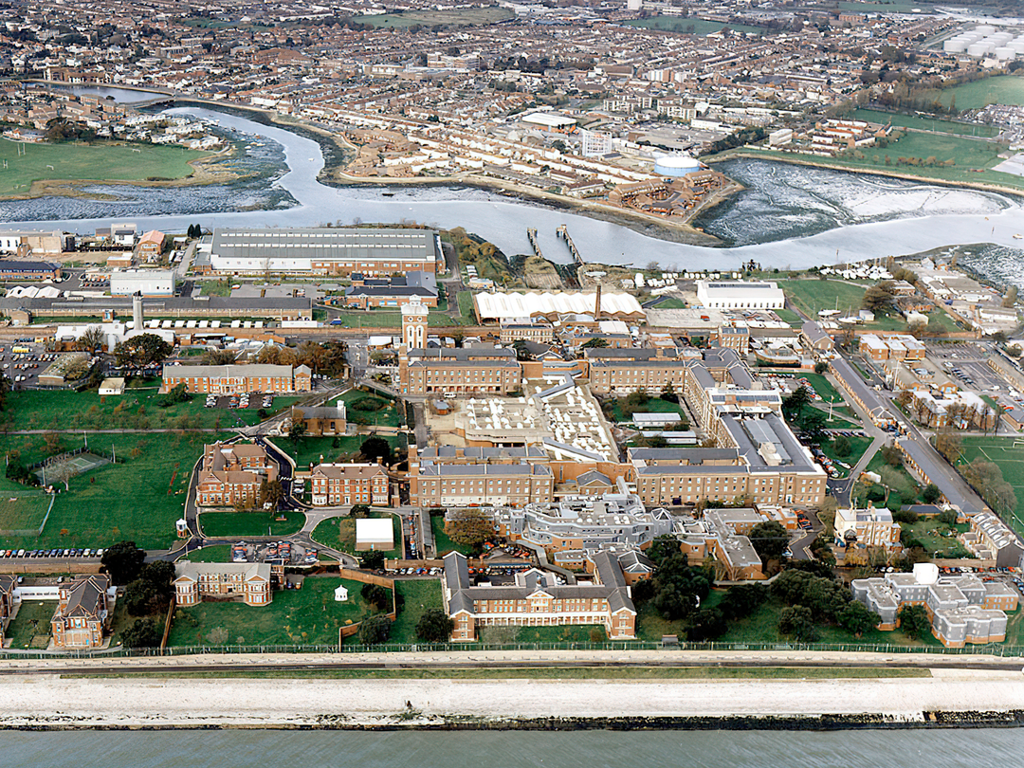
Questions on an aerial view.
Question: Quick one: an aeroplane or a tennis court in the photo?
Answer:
tennis court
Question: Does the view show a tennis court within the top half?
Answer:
No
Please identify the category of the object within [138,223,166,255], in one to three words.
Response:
building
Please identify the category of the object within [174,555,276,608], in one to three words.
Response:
house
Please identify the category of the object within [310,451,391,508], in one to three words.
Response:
house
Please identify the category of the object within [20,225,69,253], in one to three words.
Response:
shed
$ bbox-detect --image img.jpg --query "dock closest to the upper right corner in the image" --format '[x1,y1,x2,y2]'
[552,219,585,265]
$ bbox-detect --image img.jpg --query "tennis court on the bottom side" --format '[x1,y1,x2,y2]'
[39,452,111,489]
